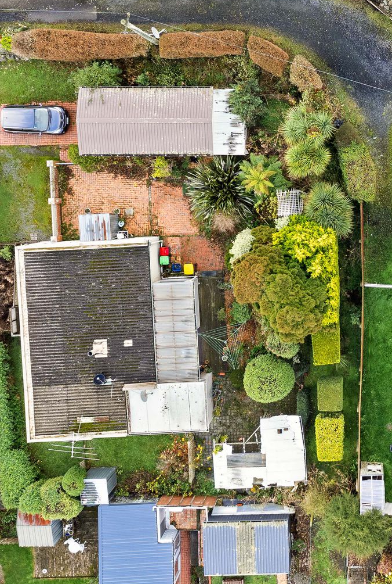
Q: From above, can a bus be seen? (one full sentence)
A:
No, the scene contains no bus.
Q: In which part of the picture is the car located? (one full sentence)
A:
The car appears toward the top left of the photo.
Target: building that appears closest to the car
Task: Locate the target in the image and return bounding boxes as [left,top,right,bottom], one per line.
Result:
[76,86,216,157]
